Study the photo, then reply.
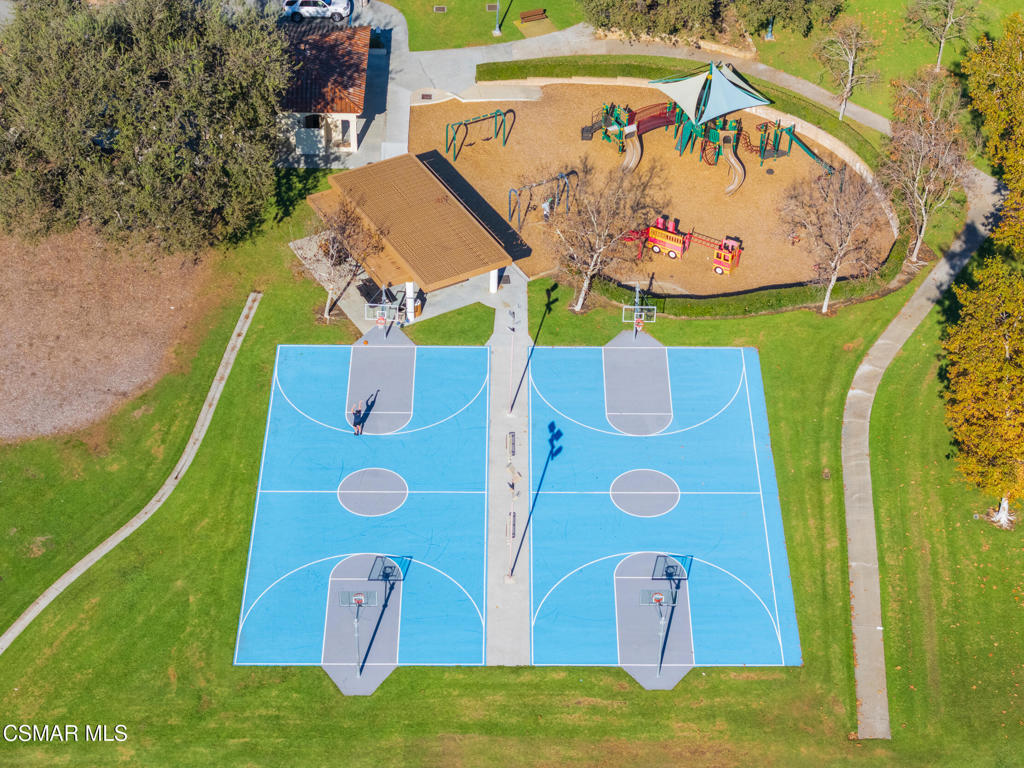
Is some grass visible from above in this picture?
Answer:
Yes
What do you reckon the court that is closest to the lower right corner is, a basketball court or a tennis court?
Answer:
basketball court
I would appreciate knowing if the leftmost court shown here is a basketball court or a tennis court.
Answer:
basketball court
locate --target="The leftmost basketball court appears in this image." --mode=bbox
[233,325,491,696]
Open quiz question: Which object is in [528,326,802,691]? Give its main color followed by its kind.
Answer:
blue basketball court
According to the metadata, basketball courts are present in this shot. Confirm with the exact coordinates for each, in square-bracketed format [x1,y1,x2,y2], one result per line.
[233,325,491,696]
[528,326,802,691]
